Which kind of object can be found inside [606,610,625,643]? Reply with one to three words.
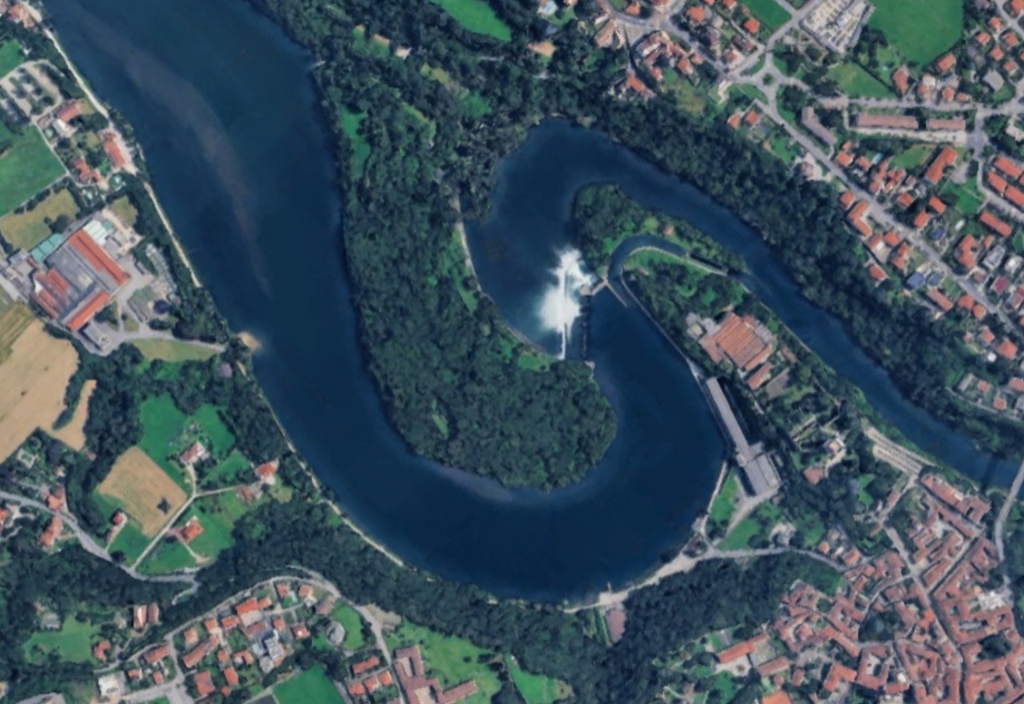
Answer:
building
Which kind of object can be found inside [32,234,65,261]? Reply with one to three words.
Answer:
shed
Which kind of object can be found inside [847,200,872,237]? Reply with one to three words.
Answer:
house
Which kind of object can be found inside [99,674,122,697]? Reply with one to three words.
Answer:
house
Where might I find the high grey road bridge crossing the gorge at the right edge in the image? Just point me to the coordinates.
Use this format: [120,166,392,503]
[997,453,1024,531]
